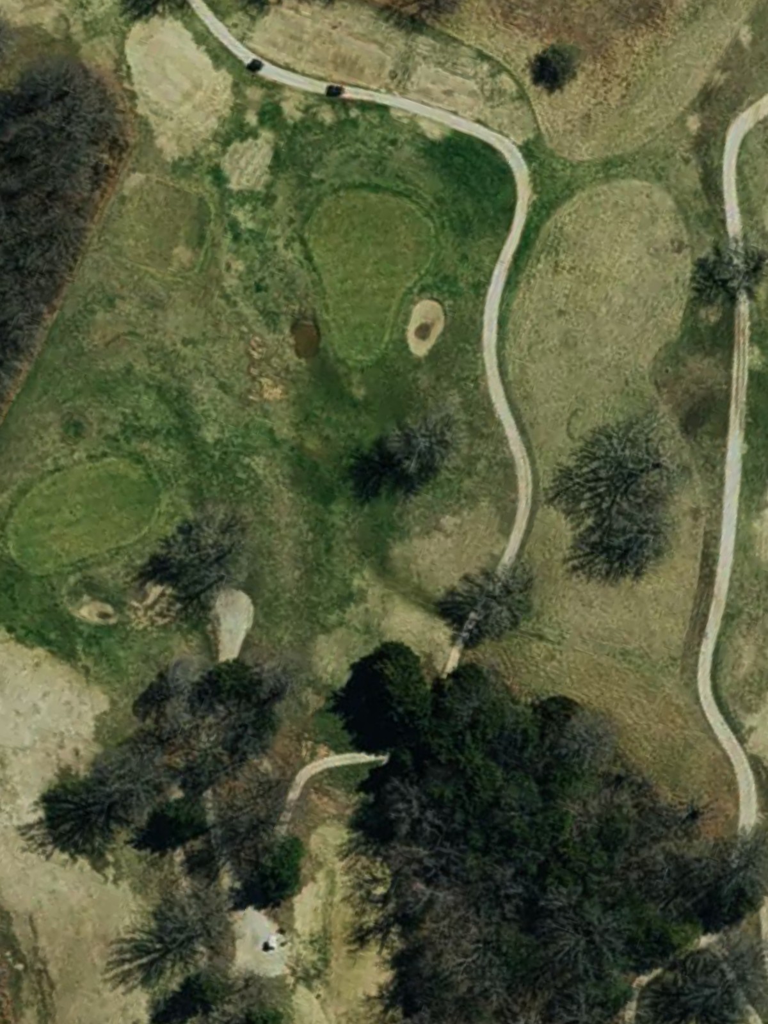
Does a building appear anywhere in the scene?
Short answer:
No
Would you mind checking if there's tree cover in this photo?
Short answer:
Yes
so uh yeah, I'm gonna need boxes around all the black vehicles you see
[328,85,343,95]
[248,58,264,70]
